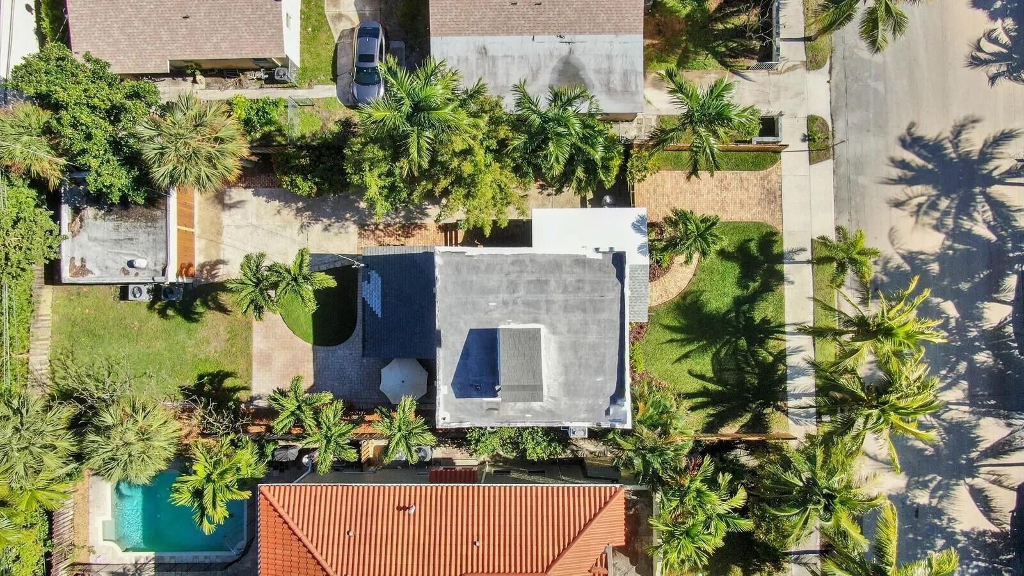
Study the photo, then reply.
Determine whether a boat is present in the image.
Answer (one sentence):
No, the photo shows no boat.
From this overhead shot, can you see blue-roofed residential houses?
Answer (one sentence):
No, there's no blue-roofed residential house here.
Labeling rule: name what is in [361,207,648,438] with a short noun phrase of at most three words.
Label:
house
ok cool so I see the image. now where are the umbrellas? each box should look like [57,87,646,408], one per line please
[382,358,427,400]
[276,439,304,465]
